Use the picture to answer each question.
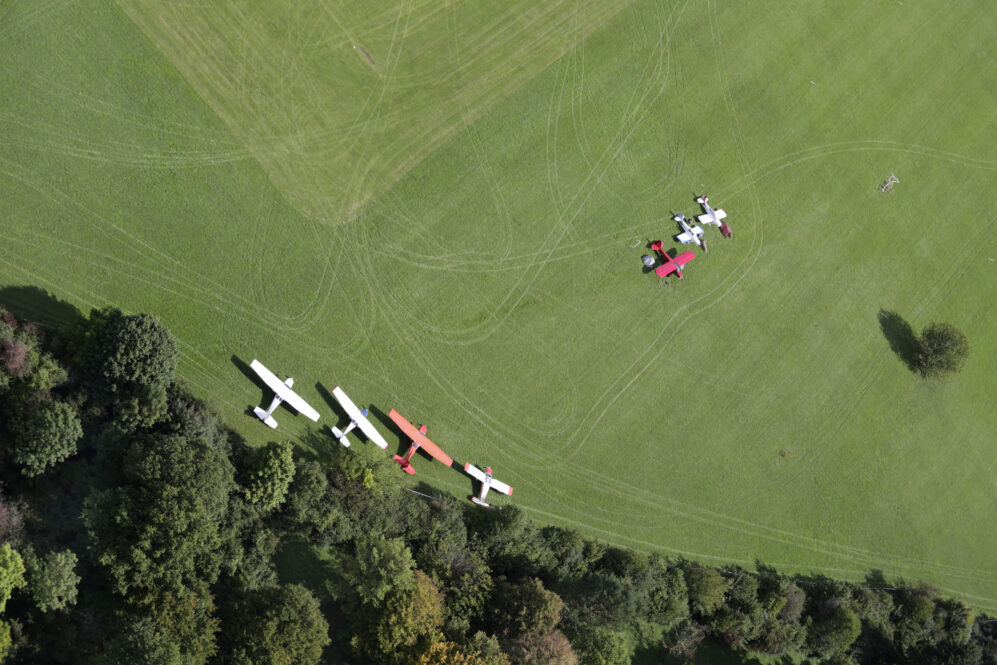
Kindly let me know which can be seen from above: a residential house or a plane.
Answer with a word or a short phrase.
plane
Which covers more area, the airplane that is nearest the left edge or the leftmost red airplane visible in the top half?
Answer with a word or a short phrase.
the airplane that is nearest the left edge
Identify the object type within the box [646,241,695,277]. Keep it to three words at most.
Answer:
airplane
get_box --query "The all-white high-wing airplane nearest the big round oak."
[251,360,321,427]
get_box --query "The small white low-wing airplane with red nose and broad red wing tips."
[464,463,511,509]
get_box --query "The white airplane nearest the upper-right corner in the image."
[697,195,730,241]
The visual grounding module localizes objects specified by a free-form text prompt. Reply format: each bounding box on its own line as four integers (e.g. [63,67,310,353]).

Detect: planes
[464,463,511,509]
[675,213,706,255]
[646,241,695,277]
[697,195,730,241]
[389,408,455,471]
[329,387,389,448]
[251,360,321,427]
